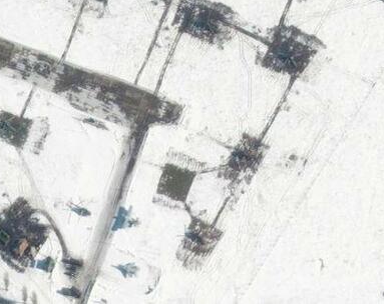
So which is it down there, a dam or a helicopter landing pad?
helicopter landing pad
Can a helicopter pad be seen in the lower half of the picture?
Yes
